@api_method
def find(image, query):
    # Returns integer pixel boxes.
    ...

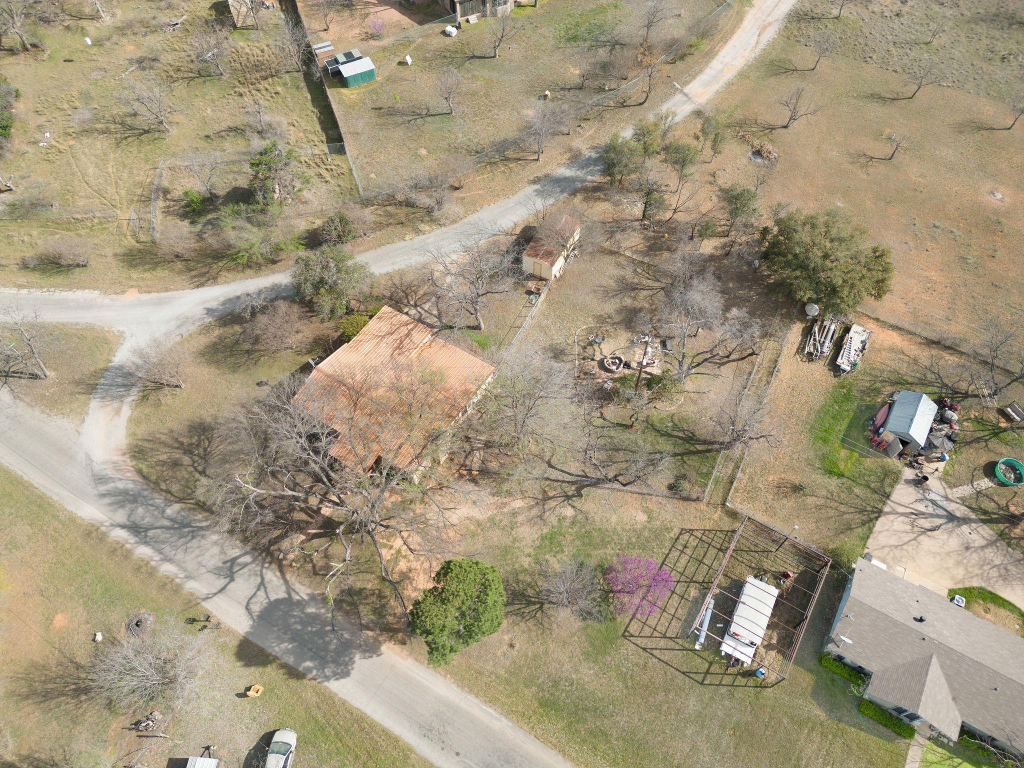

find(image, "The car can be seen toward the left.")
[265,732,301,768]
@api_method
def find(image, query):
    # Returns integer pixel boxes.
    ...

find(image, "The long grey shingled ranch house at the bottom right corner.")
[821,554,1024,760]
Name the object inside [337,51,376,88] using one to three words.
shed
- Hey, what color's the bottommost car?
white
